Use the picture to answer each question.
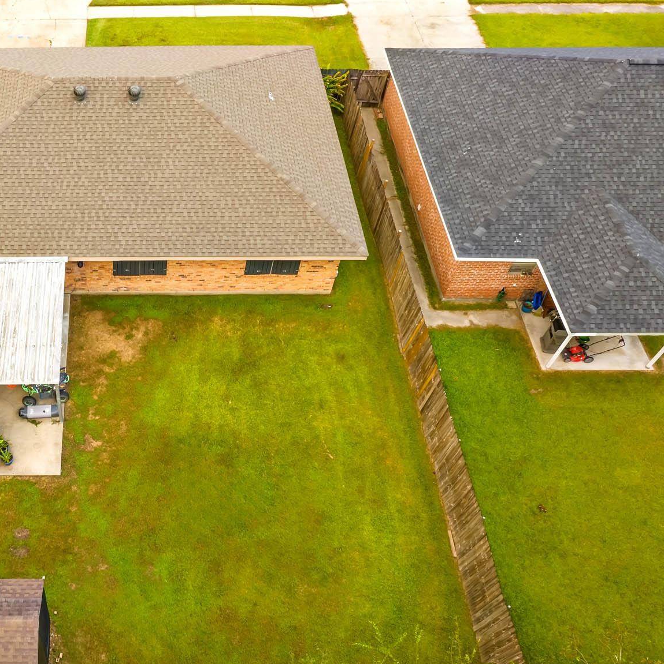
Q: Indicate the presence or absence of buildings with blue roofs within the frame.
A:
No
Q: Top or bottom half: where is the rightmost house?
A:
top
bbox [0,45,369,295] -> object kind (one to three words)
house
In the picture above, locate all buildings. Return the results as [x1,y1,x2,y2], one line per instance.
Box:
[0,577,53,664]
[383,48,664,369]
[0,45,369,295]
